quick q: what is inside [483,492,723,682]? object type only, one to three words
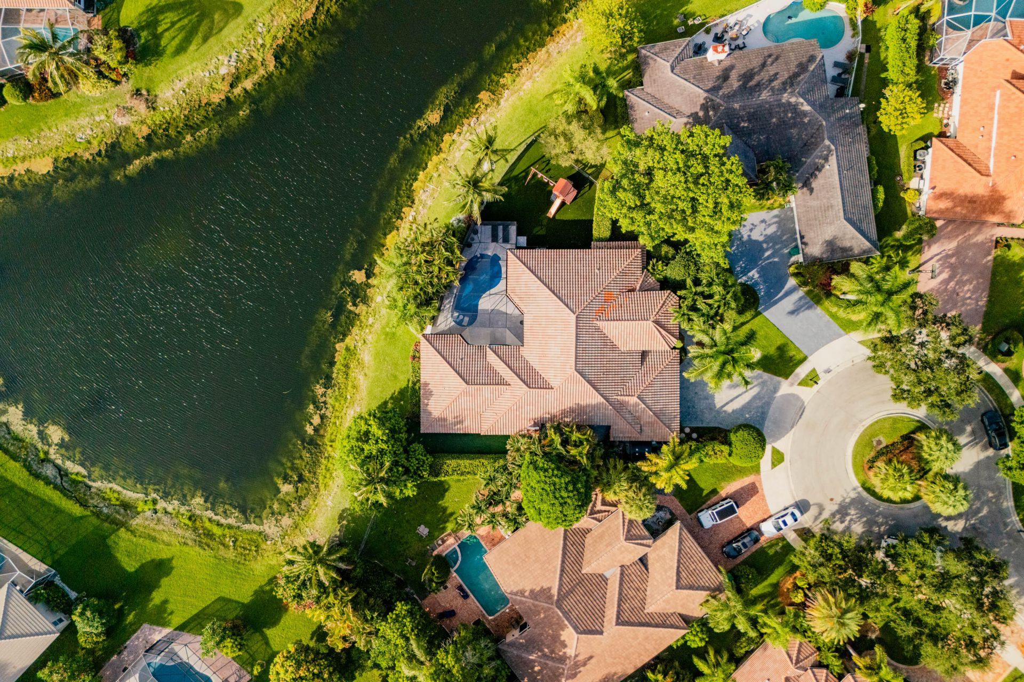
house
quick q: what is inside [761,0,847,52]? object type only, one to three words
swimming pool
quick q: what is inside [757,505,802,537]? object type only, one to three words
car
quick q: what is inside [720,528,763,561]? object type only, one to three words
car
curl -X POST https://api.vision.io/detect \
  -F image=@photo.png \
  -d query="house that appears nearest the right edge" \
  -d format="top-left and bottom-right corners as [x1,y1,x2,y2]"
[917,20,1024,225]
